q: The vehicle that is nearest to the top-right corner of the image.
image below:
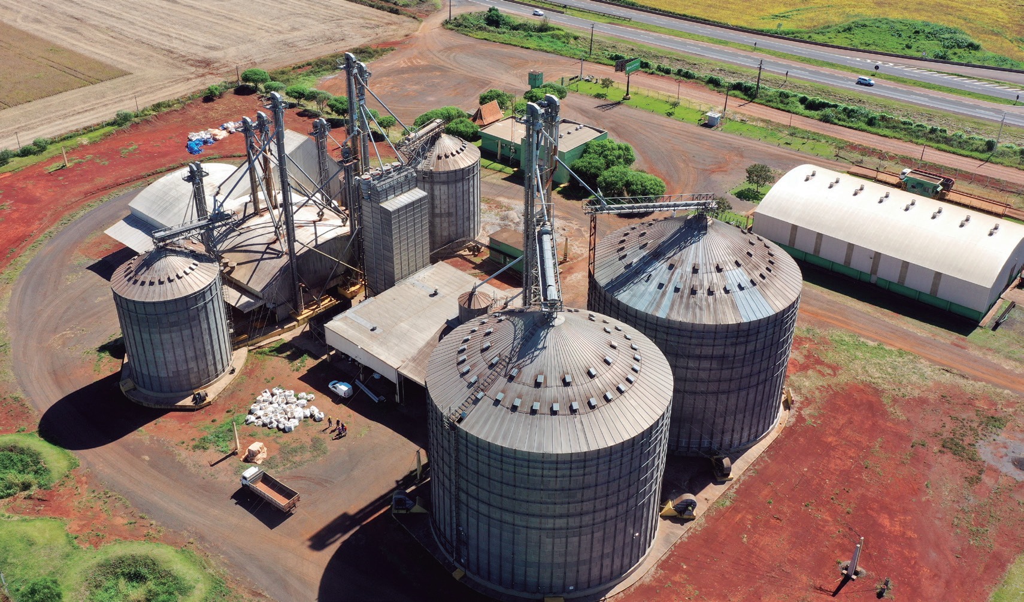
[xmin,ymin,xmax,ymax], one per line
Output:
[854,74,876,86]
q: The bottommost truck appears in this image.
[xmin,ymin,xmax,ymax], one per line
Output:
[236,464,300,516]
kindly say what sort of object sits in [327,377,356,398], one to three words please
vehicle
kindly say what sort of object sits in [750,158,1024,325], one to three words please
warehouse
